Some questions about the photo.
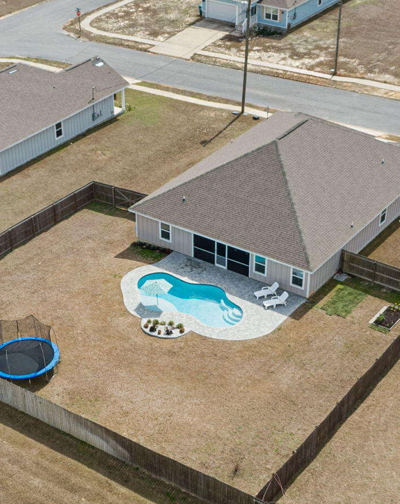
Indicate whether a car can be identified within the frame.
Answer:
No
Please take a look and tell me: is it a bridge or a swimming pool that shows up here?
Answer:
swimming pool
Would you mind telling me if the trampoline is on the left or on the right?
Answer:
left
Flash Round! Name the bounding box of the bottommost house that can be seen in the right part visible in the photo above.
[128,111,400,299]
